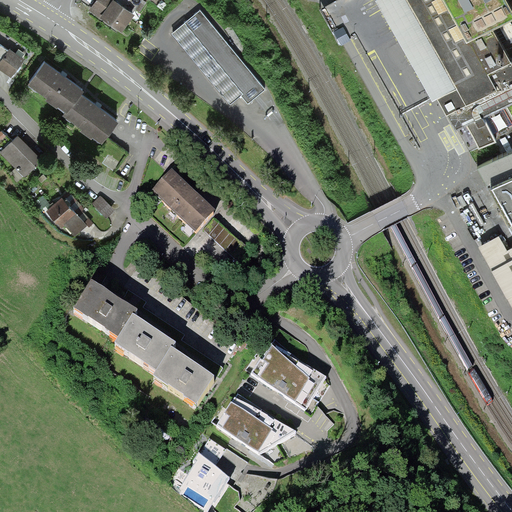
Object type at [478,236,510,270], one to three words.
building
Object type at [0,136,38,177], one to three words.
house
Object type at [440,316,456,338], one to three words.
rail car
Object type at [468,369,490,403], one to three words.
rail car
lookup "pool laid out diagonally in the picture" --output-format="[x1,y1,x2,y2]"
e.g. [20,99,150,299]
[184,486,209,508]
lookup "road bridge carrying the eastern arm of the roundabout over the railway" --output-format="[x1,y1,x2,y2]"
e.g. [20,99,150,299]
[347,192,425,250]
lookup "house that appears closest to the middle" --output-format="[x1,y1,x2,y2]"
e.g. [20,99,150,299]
[152,168,214,233]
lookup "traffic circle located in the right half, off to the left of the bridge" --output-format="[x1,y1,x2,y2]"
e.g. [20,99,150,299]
[282,213,354,284]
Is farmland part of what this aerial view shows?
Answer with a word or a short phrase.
No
